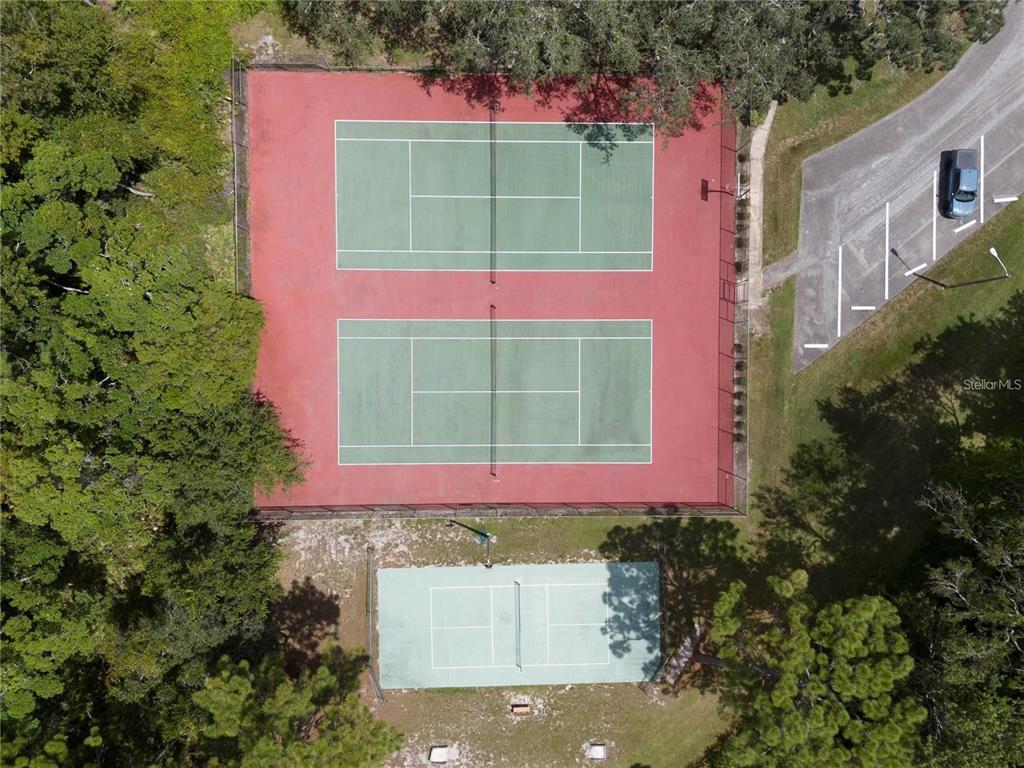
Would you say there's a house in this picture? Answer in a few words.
No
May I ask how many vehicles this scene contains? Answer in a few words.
1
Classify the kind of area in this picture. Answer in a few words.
sports ground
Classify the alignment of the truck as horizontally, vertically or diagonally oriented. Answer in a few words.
vertically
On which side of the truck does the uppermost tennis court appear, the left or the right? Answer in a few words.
to the left of it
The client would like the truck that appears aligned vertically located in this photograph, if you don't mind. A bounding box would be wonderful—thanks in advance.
[942,148,977,218]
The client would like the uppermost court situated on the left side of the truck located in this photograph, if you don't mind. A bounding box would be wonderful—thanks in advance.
[249,71,738,295]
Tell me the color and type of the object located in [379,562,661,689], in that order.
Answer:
white sports court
